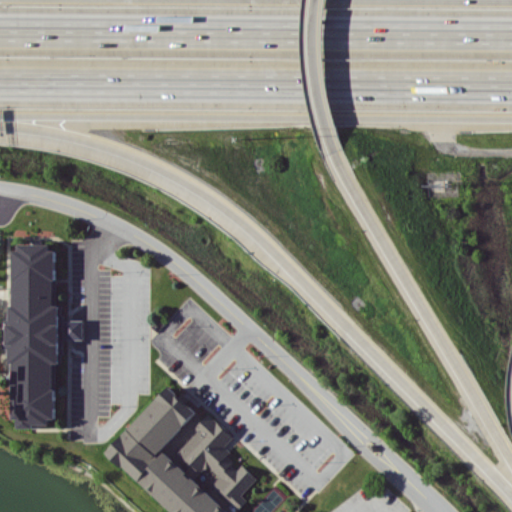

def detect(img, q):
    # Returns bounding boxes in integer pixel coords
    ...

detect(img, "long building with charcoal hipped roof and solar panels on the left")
[1,245,58,430]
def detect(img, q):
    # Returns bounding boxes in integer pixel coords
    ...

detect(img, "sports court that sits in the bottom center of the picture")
[252,488,287,512]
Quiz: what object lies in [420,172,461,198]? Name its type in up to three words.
building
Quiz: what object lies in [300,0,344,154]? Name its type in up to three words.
overpass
